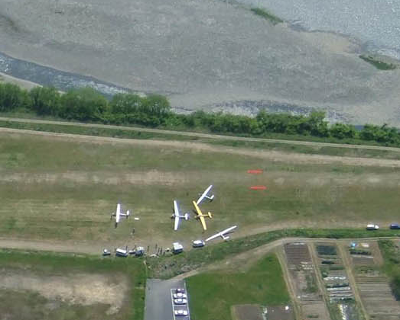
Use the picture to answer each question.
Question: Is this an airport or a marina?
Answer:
airport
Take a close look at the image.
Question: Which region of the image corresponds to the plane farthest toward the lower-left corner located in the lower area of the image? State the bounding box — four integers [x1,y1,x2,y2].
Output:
[111,204,130,222]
